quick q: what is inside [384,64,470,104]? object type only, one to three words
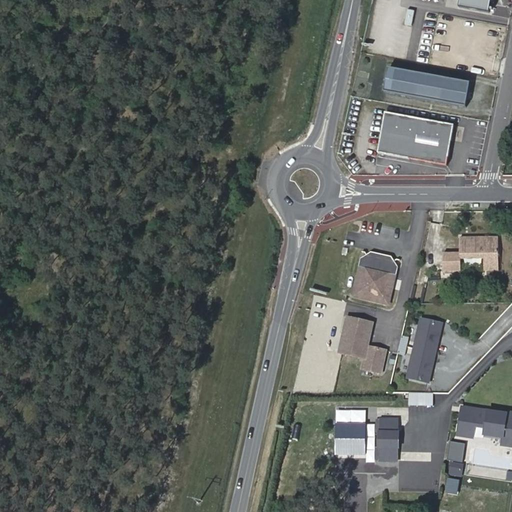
building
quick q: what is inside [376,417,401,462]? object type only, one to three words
house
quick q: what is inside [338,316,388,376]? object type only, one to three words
house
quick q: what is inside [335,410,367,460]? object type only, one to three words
building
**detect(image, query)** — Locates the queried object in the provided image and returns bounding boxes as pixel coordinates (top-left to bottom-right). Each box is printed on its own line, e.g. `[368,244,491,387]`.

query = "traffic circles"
[258,118,361,247]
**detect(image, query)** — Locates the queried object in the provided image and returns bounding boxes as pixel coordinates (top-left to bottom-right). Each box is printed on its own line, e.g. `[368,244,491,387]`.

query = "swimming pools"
[473,448,512,470]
